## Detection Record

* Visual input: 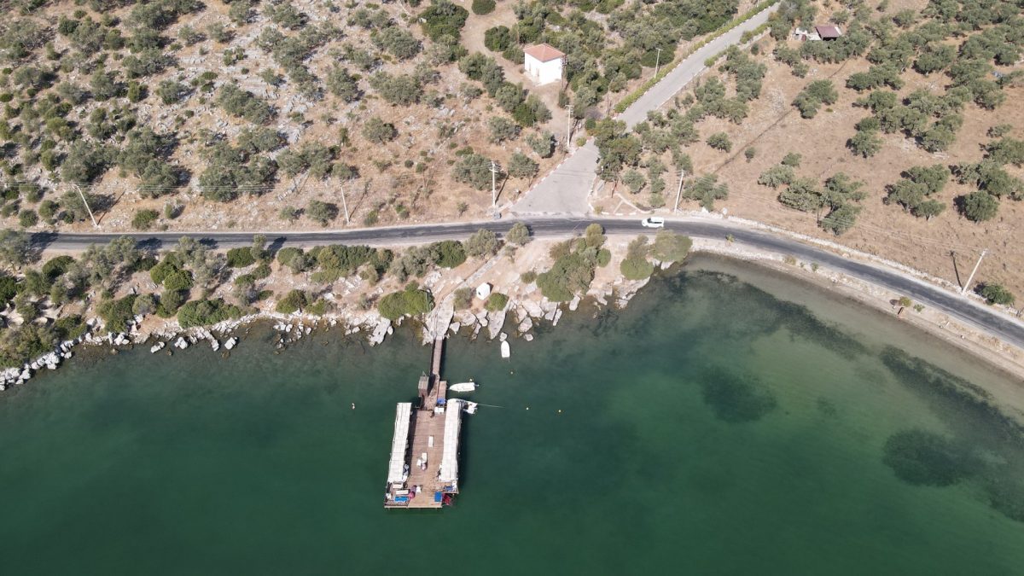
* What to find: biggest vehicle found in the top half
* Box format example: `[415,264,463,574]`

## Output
[642,215,664,227]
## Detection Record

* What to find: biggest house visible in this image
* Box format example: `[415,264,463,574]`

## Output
[518,45,564,88]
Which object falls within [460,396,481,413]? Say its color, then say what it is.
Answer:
white boat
